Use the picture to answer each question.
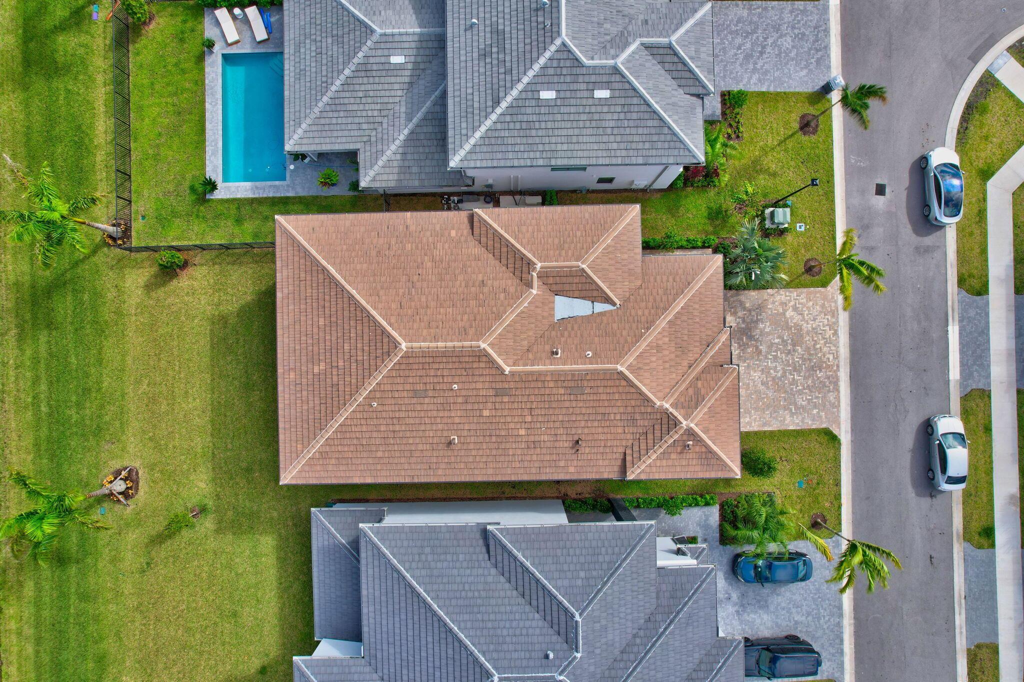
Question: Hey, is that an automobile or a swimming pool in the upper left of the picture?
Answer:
swimming pool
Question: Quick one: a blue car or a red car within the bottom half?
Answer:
blue car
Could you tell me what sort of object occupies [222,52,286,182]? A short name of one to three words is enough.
swimming pool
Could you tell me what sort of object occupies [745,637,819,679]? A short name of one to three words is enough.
car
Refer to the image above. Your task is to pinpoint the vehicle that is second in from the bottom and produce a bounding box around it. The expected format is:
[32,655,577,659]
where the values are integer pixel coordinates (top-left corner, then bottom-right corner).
[731,550,814,588]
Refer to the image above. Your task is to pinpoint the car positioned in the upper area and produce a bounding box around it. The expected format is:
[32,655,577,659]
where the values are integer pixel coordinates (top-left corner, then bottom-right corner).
[921,148,965,225]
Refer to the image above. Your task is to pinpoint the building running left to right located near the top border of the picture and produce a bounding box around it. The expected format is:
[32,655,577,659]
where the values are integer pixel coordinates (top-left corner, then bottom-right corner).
[280,0,717,195]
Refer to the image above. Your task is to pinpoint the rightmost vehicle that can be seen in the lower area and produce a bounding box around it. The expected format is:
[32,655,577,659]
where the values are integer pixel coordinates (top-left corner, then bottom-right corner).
[930,414,973,492]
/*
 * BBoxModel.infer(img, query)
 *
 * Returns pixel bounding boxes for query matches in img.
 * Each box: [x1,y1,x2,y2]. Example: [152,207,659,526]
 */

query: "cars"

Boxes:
[731,550,814,588]
[745,637,819,679]
[930,414,973,492]
[921,148,965,225]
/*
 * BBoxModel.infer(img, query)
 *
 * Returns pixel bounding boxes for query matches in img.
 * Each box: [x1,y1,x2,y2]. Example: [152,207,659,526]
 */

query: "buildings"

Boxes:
[291,501,746,682]
[280,0,717,195]
[274,202,743,487]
